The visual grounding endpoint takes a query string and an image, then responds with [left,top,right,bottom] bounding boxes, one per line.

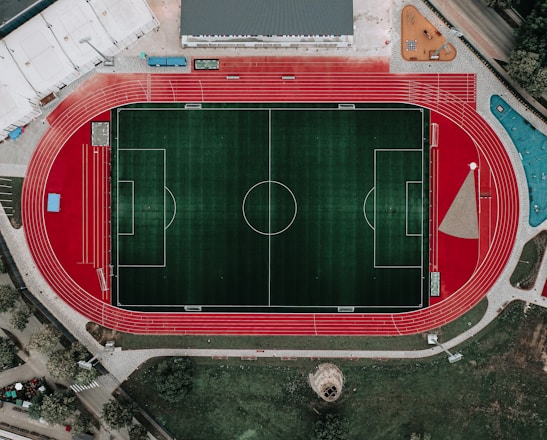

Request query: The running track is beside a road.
[21,56,521,335]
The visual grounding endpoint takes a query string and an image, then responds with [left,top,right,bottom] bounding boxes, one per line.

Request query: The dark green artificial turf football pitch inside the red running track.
[111,102,429,312]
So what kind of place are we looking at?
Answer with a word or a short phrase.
sports ground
